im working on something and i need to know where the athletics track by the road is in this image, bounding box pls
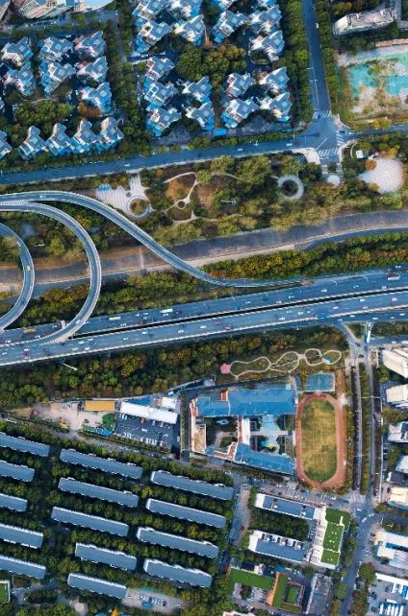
[296,393,344,488]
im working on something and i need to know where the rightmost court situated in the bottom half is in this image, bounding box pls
[307,374,335,392]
